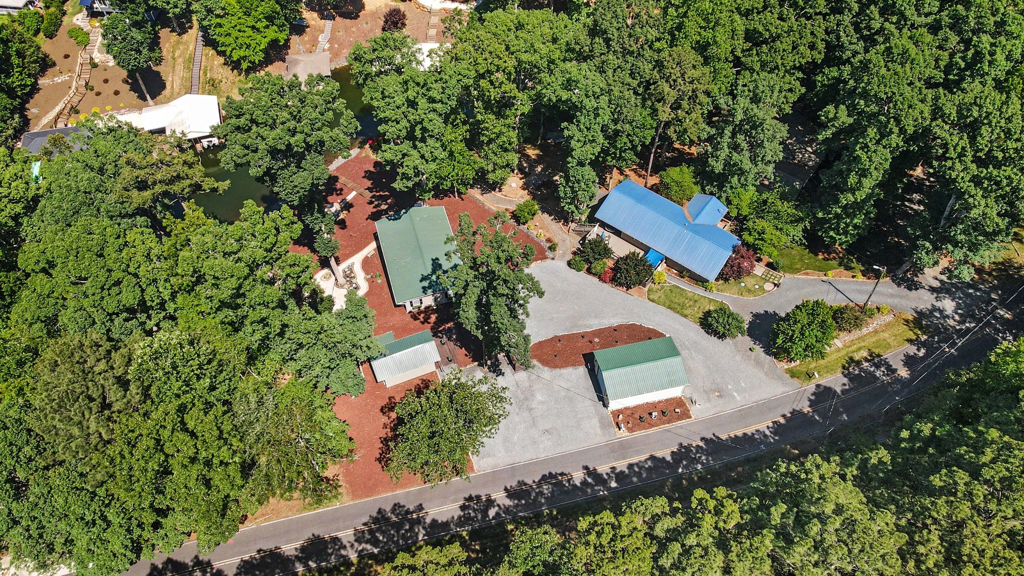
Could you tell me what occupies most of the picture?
trees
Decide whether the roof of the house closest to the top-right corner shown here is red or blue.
blue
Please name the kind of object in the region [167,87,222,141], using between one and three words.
building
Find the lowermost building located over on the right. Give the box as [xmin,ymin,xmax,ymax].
[595,337,689,408]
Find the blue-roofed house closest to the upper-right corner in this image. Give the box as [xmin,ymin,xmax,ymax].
[595,179,741,286]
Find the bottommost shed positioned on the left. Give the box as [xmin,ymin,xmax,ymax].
[370,330,441,388]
